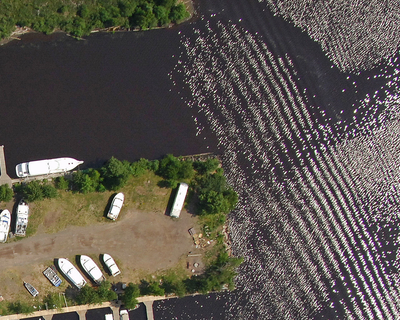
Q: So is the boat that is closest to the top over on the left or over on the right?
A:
left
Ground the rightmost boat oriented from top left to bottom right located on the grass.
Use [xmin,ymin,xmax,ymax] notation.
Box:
[104,254,122,276]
